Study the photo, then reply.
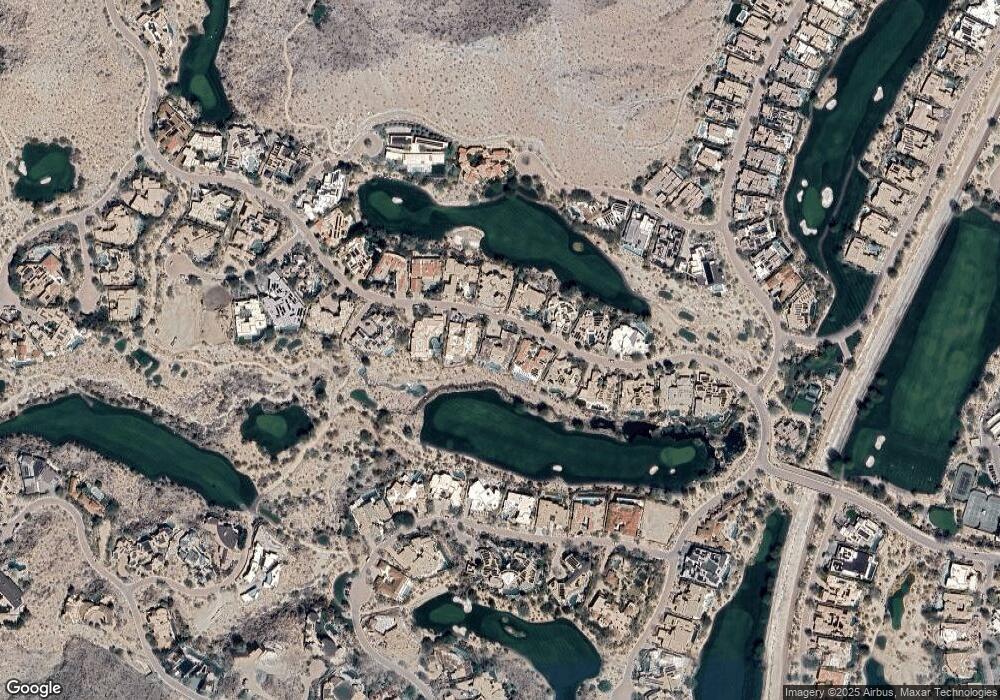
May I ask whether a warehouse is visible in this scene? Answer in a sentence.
No, I can see no warehouse in this picture.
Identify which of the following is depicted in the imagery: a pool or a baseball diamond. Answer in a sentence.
It is a pool that can be seen here.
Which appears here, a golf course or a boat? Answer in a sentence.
Looking from above, you can make out a golf course.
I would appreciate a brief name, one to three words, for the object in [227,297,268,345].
house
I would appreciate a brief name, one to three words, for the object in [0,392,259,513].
golf course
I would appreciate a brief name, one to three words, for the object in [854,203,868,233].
swimming pool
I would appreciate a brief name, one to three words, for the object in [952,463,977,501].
tennis court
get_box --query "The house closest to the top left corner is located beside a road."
[132,6,172,51]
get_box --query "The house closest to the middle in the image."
[478,325,518,370]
